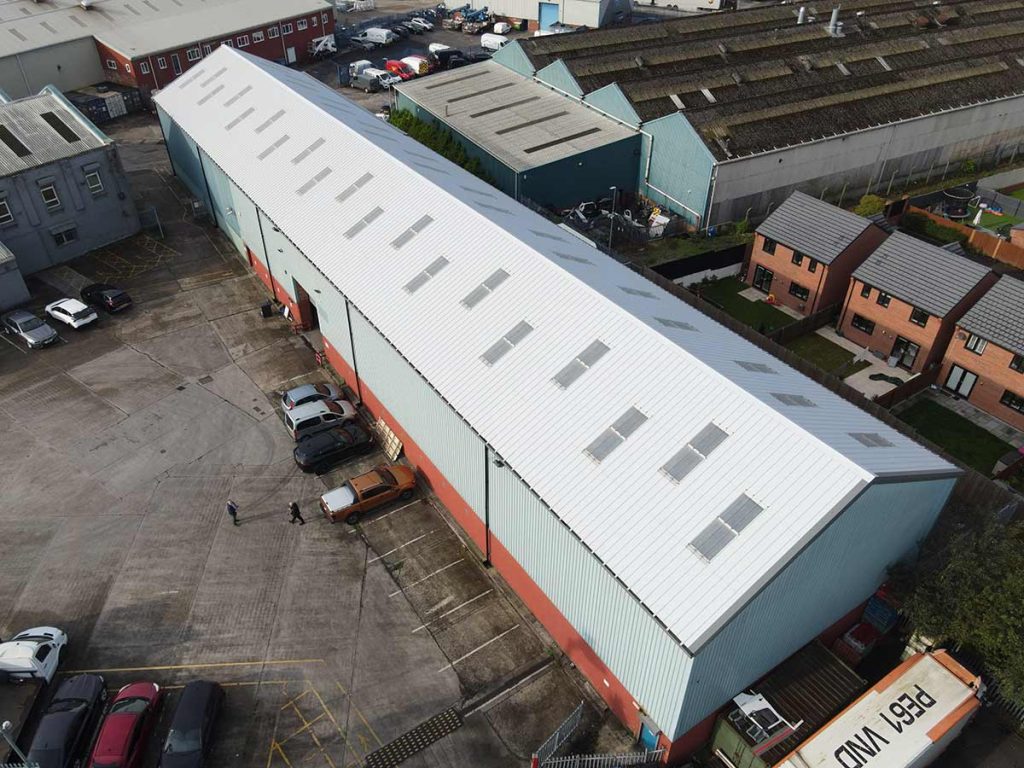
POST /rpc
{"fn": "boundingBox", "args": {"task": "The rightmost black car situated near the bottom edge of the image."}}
[145,681,224,768]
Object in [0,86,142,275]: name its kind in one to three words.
building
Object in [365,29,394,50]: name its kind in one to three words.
vehicle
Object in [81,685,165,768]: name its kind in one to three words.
car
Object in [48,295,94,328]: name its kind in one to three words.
car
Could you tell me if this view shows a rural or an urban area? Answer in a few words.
urban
